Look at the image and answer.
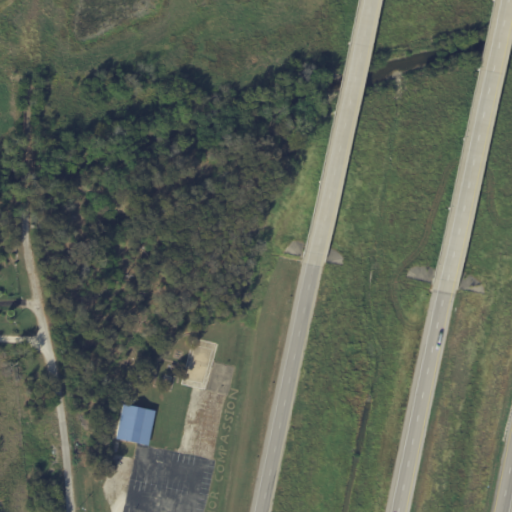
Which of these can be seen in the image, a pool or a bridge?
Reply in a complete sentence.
It is a bridge that can be seen here.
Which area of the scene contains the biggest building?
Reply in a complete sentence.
The biggest building sits in the bottom left section of the image.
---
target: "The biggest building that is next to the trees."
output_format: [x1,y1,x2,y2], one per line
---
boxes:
[114,405,156,446]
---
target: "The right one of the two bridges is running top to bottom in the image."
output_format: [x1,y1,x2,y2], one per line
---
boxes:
[408,0,512,295]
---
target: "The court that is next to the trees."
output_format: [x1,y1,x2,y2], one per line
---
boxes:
[182,339,216,390]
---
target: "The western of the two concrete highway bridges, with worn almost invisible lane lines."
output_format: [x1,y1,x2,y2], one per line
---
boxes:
[286,0,384,268]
